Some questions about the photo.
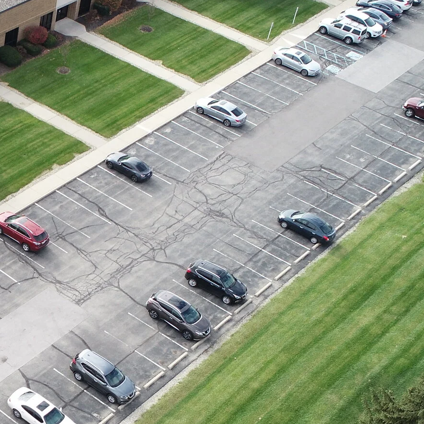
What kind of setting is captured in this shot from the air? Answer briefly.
parking lot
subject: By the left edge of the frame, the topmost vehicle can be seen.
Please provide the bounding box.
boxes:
[0,213,52,254]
